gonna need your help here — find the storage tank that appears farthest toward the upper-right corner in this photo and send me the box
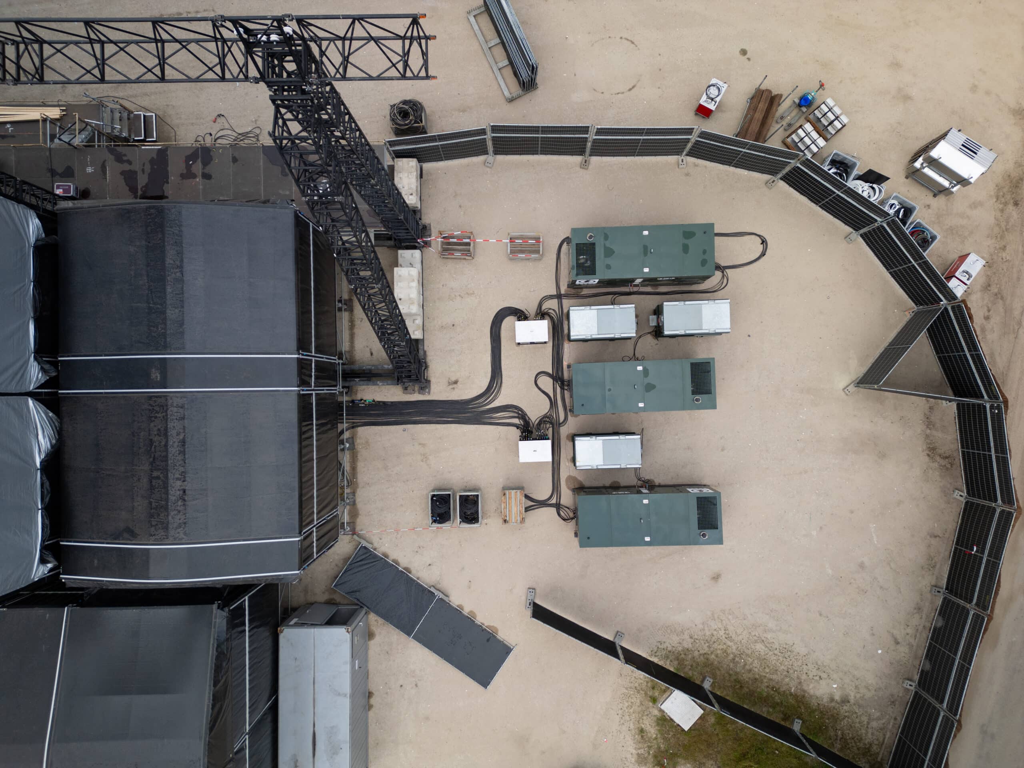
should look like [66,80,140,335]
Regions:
[648,299,731,337]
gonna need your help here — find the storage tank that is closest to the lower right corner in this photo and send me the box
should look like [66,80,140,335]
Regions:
[575,434,641,469]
